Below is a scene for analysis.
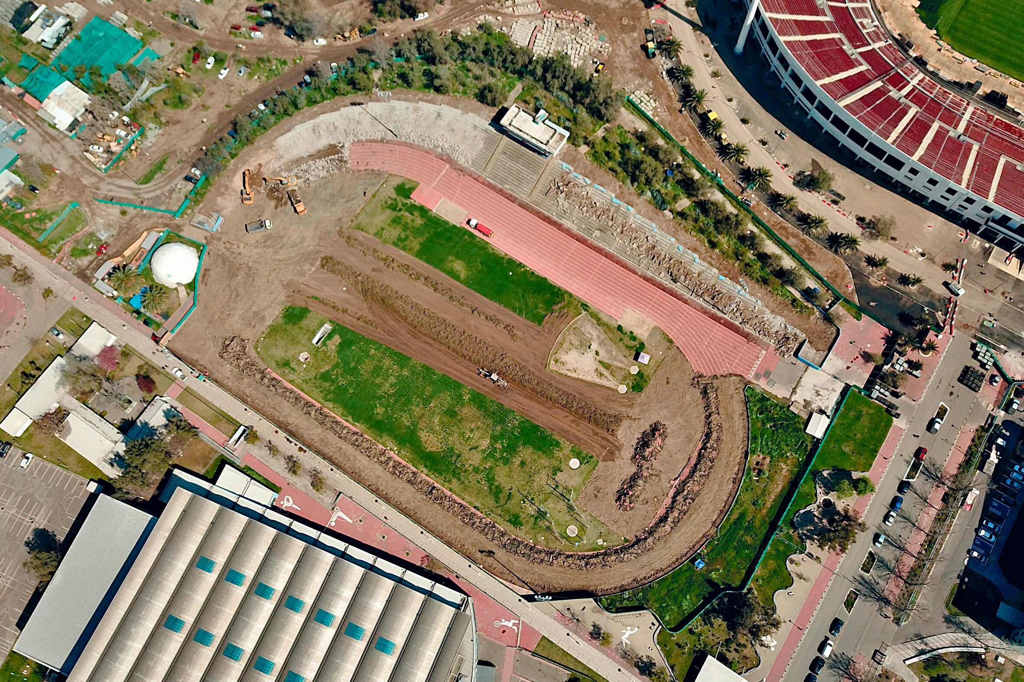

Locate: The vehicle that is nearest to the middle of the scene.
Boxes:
[478,369,511,391]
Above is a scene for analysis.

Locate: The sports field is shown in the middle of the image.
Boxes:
[257,174,674,552]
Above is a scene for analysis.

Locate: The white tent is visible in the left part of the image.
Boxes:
[153,245,198,293]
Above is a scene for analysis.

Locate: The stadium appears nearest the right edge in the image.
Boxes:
[728,0,1024,248]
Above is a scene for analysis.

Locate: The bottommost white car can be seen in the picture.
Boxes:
[822,639,834,659]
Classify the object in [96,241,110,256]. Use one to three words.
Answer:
work vehicle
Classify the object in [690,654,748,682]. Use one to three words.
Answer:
building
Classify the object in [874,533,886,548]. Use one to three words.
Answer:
vehicle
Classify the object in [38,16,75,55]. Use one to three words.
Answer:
shed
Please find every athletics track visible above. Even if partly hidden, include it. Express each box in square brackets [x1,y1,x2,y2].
[266,137,778,553]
